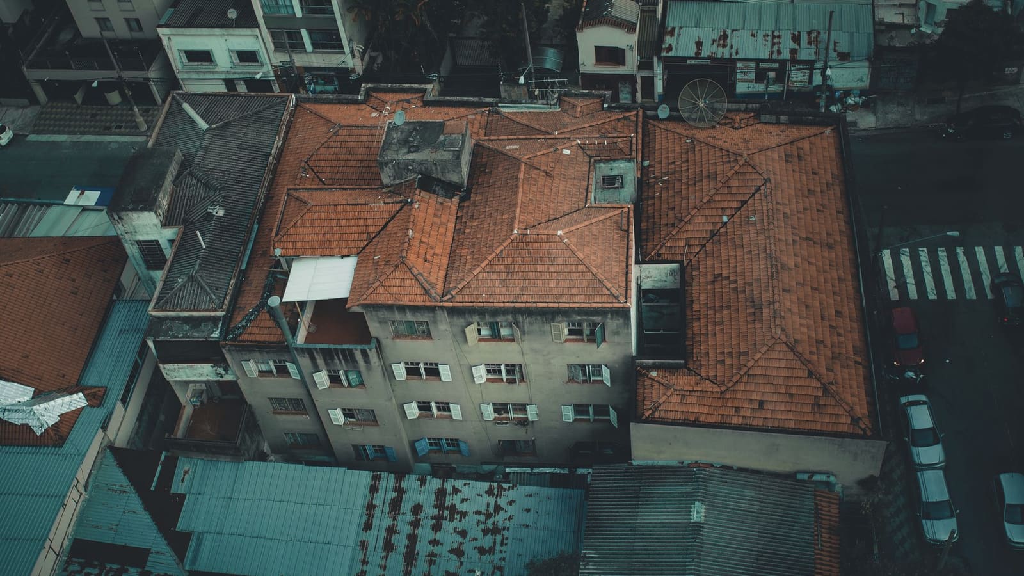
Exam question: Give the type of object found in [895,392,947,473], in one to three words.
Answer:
car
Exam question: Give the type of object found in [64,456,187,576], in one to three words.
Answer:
shed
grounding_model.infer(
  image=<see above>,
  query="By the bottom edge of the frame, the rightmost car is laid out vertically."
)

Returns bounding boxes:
[991,472,1024,553]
